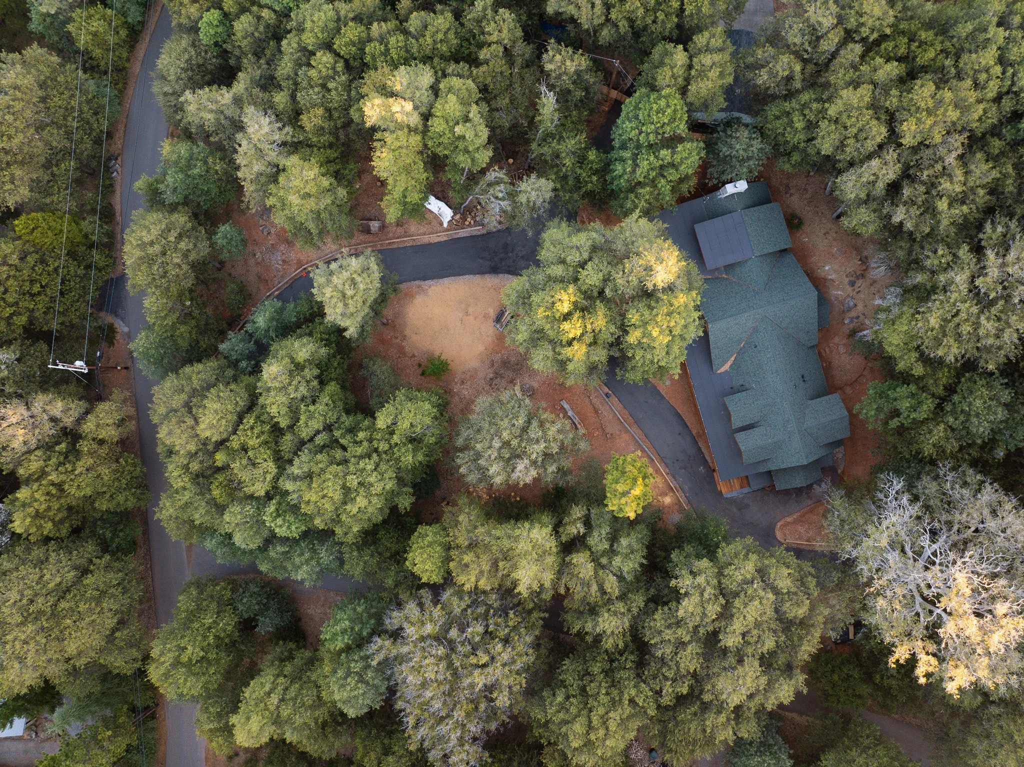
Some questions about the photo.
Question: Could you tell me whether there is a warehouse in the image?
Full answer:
No, there appears to be no warehouse in this shot.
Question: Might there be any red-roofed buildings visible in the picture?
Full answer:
No, the frame has no red-roofed building in it.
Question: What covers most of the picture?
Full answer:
The bulk of the photo consists of trees.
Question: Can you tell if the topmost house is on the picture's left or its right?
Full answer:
You can find the topmost house on the right side of the picture.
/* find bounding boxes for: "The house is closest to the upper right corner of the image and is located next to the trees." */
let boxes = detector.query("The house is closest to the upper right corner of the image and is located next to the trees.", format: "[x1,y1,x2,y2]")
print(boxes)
[647,181,849,492]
